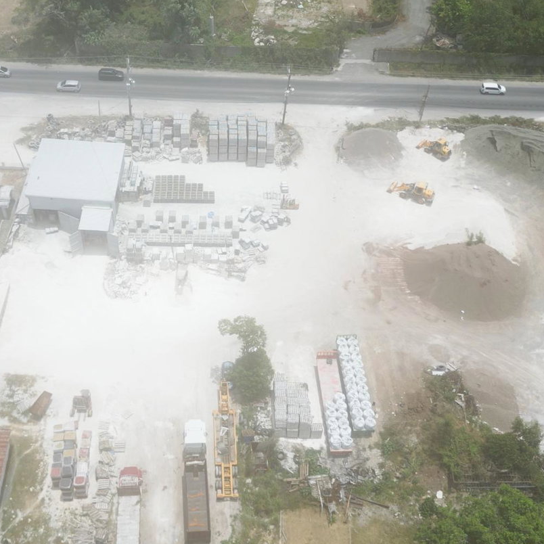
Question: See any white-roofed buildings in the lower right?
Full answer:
No, I see no white-roofed building in the lower right.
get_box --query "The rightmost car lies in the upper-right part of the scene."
[480,82,506,96]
